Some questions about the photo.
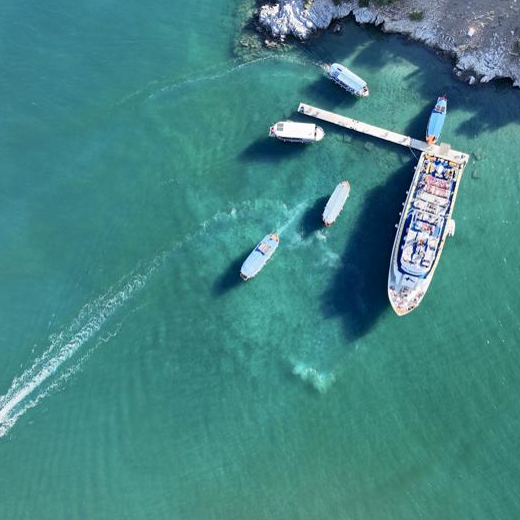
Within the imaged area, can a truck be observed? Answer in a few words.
No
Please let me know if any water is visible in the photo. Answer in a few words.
Yes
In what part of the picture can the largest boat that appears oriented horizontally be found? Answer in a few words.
top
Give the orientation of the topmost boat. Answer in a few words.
at an angle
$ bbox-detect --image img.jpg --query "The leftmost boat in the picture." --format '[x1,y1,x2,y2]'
[242,232,281,281]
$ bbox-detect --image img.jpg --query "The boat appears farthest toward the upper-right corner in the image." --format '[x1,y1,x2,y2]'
[423,95,447,146]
